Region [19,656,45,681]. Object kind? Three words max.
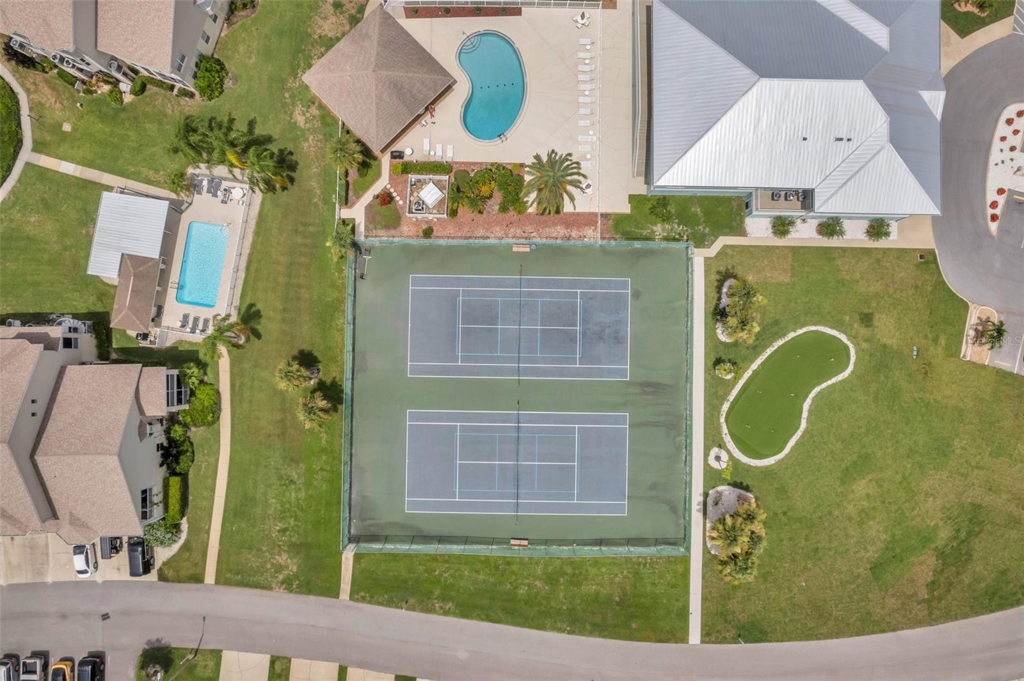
truck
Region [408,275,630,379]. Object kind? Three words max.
tennis court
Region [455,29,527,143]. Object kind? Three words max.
swimming pool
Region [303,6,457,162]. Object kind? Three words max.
building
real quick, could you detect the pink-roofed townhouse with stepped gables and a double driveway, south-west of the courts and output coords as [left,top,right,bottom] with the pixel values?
[0,318,188,544]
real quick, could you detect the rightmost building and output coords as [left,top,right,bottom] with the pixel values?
[631,0,952,220]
